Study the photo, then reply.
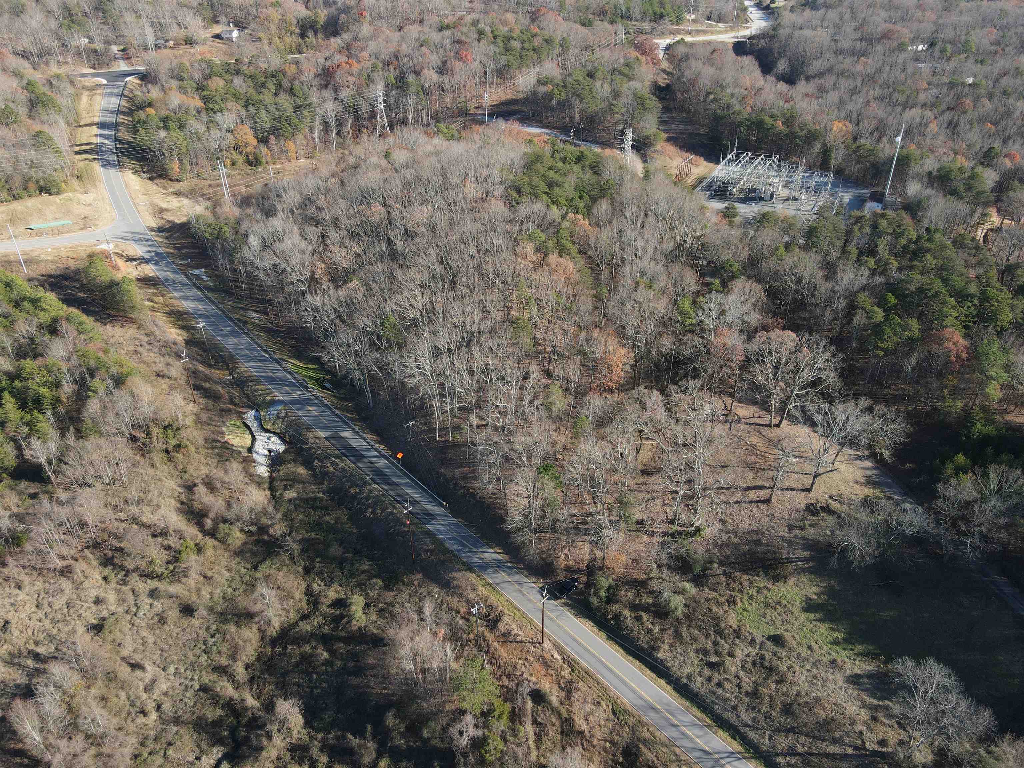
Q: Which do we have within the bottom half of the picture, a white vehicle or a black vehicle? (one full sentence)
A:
Visible within the bottom half of the picture is a black vehicle.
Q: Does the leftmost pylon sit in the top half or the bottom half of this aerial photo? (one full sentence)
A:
You can find the leftmost pylon in the top half.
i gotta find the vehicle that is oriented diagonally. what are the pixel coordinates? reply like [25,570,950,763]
[551,570,586,598]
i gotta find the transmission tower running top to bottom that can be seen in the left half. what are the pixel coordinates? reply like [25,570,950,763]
[371,87,392,136]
